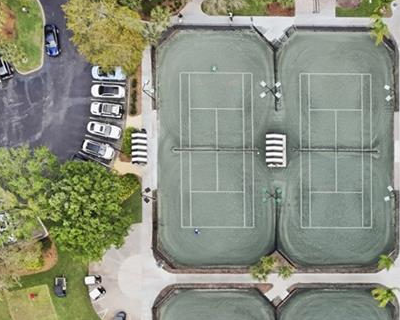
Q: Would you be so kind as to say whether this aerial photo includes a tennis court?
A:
Yes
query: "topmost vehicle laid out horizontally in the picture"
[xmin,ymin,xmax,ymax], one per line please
[93,66,127,80]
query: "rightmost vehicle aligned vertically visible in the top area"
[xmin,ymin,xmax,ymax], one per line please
[44,23,59,56]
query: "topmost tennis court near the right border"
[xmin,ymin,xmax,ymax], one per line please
[276,32,395,267]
